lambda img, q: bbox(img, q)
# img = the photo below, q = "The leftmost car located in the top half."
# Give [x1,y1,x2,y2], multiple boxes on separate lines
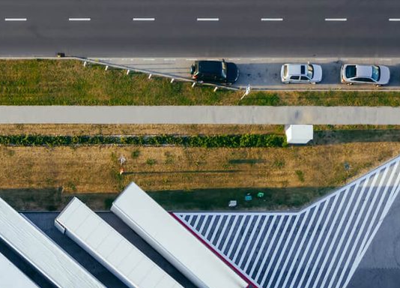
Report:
[189,56,236,82]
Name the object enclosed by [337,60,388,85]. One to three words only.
car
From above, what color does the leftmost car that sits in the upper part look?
black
